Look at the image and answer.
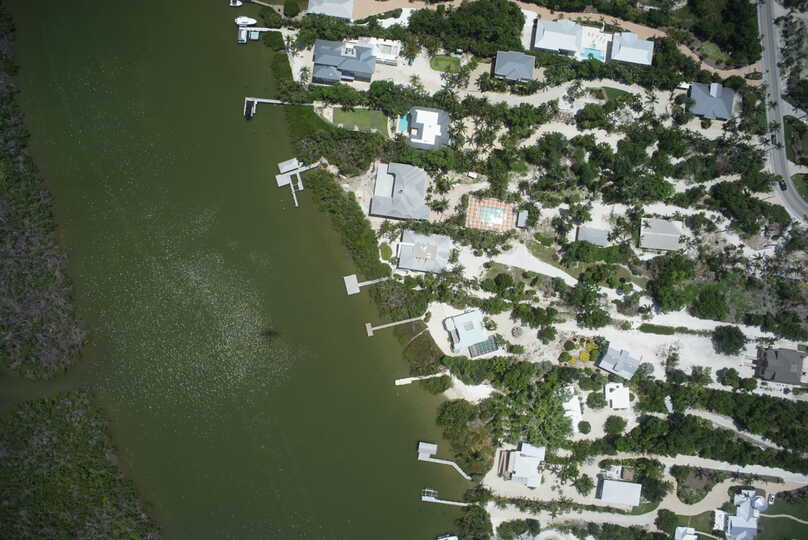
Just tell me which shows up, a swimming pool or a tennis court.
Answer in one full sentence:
This aerial view contains a swimming pool.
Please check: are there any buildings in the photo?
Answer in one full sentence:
Yes, there is a building in the image.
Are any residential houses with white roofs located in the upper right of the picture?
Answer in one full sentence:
Yes, a residential house with a white roof can be seen in the upper right of the picture.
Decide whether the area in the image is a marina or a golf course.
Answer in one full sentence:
What you see here is a marina.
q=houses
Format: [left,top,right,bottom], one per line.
[492,51,543,82]
[720,489,768,540]
[404,107,451,152]
[442,309,491,350]
[574,227,609,246]
[635,218,685,251]
[607,31,655,66]
[603,383,633,410]
[496,443,546,487]
[530,17,583,56]
[746,348,806,385]
[671,527,698,540]
[596,341,641,382]
[686,81,733,122]
[396,230,449,273]
[597,465,642,506]
[562,388,583,433]
[370,163,432,220]
[312,39,376,86]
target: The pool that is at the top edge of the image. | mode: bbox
[582,26,613,62]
